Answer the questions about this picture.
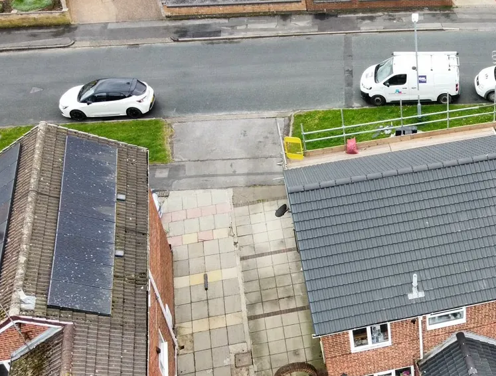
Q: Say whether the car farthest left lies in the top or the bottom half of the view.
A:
top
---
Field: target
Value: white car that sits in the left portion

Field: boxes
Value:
[57,76,155,119]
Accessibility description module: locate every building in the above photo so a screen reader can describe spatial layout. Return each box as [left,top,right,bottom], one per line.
[282,132,496,376]
[0,125,180,376]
